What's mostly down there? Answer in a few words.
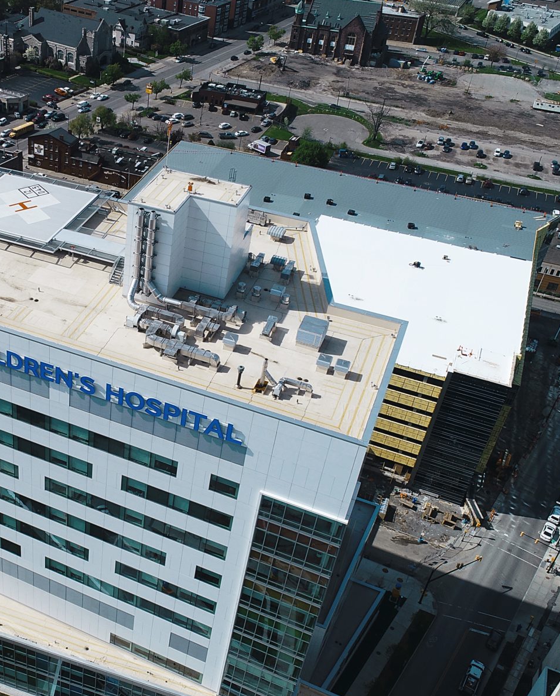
buildings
